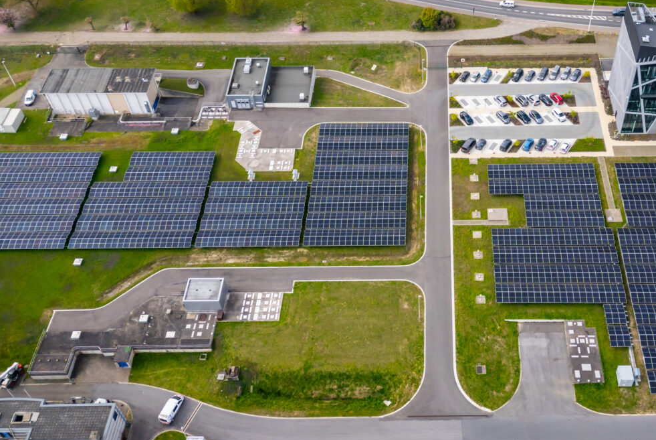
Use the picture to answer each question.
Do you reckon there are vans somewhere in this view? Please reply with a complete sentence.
Yes, the image includes a van.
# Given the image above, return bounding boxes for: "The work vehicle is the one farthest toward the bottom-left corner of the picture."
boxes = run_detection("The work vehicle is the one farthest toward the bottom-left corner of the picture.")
[0,361,26,391]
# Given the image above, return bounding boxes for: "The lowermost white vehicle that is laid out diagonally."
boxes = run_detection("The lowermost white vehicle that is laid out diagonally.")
[156,394,186,424]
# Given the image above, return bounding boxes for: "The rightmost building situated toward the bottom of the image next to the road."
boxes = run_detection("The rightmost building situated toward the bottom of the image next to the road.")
[183,278,228,309]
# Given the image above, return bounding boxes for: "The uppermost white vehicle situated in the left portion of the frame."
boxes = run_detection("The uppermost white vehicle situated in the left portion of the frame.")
[21,87,39,107]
